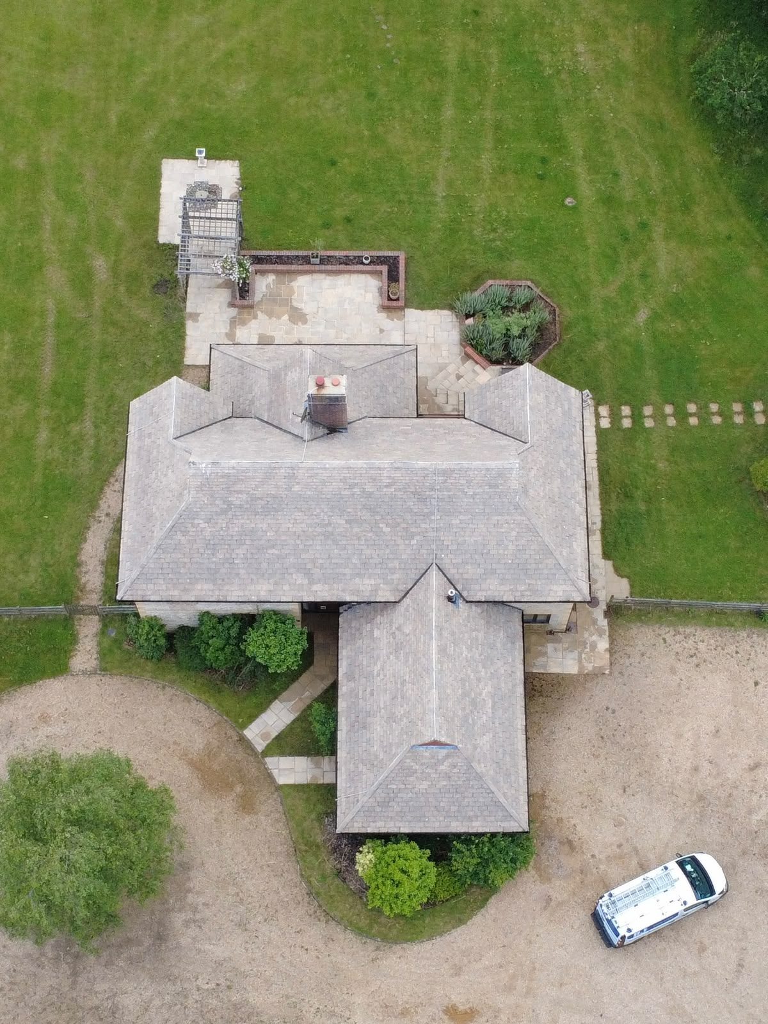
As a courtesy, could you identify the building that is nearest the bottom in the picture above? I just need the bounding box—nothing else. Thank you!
[113,343,593,837]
